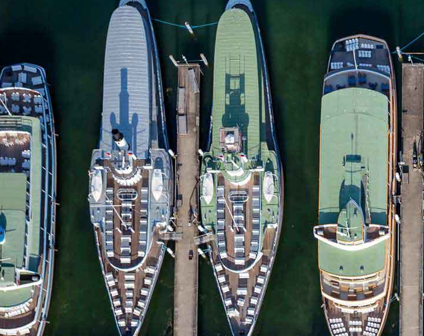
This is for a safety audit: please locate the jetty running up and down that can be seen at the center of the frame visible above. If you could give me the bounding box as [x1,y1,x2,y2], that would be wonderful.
[173,63,201,336]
